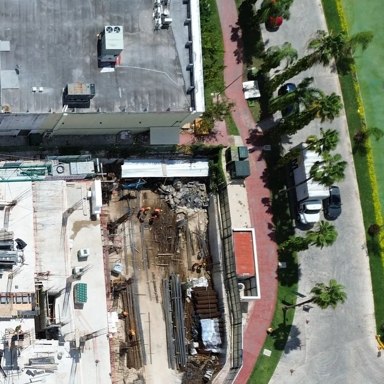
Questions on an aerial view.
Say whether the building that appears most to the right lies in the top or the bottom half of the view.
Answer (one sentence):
It is in the bottom half that the building that appears most to the right appears.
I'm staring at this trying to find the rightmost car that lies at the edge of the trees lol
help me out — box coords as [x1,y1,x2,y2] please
[323,188,342,221]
